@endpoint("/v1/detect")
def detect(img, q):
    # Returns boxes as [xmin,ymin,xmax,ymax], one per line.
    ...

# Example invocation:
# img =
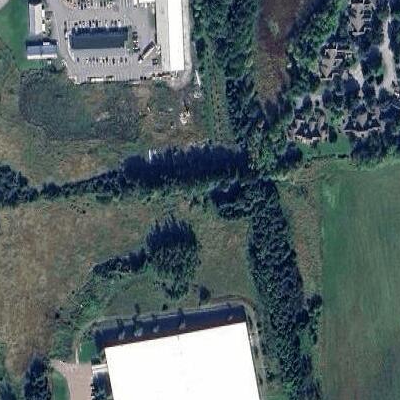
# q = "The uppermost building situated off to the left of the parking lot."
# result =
[29,4,44,36]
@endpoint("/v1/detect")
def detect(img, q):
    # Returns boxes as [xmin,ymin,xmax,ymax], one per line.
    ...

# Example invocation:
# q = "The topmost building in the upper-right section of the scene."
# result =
[347,0,374,32]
